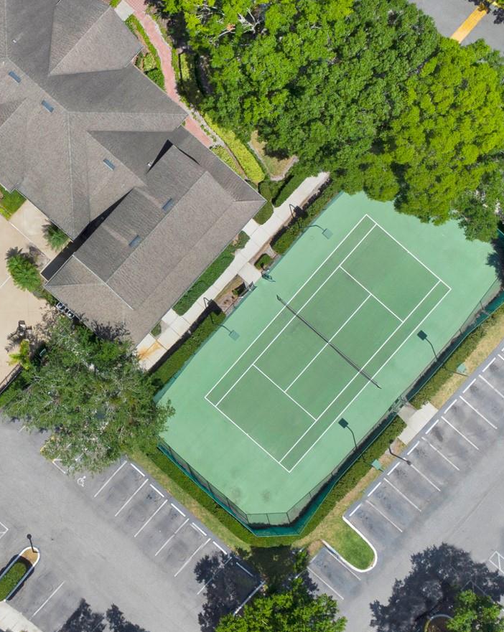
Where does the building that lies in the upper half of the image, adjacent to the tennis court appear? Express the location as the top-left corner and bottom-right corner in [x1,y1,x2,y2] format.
[0,0,267,356]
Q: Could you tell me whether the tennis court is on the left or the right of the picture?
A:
right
